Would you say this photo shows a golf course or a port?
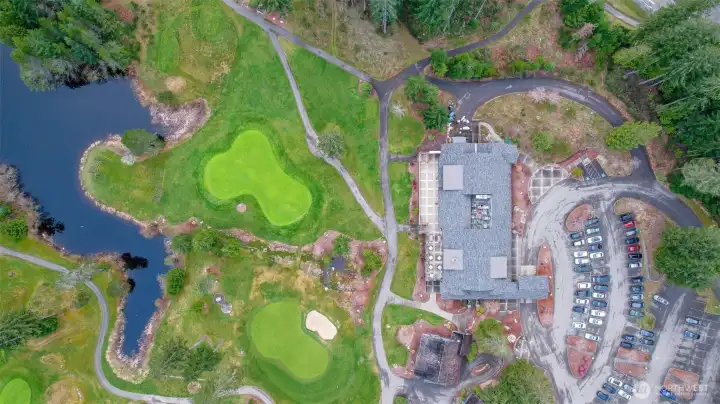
golf course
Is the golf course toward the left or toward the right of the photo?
left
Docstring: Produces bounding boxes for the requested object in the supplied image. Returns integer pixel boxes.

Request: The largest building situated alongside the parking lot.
[428,137,550,299]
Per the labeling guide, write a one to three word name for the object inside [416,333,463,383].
barn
